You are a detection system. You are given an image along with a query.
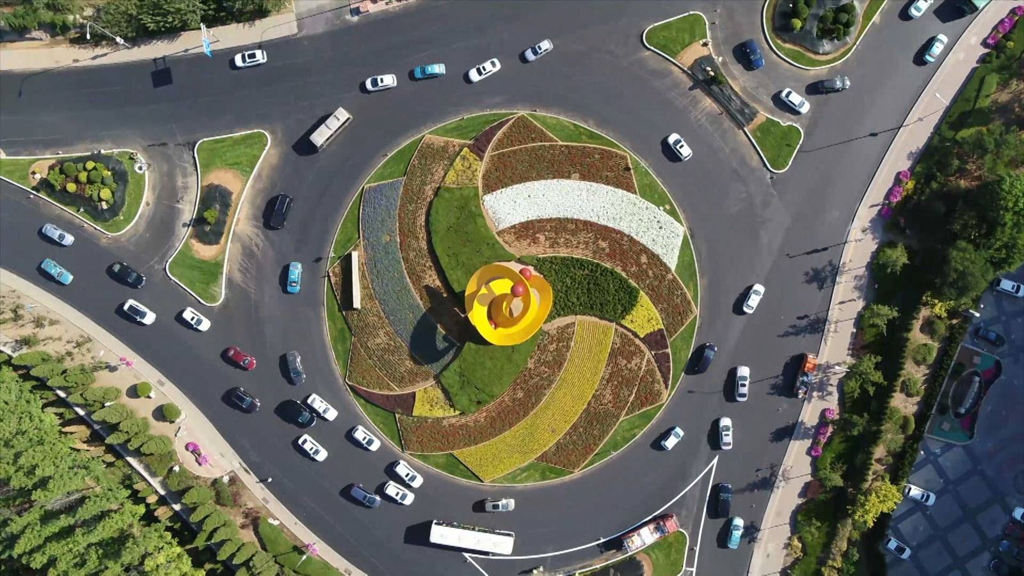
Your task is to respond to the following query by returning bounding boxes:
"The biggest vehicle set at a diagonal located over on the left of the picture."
[307,108,353,152]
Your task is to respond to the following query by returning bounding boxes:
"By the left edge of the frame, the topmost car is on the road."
[42,223,75,247]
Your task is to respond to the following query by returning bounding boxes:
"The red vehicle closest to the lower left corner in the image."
[224,346,256,370]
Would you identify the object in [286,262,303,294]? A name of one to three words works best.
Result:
car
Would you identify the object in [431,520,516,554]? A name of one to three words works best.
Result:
bus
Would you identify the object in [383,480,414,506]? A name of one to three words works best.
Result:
car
